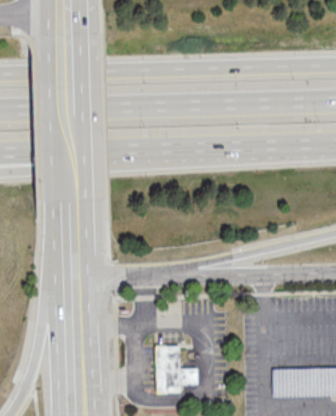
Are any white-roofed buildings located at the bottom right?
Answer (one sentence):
Yes, you'll find a white-roofed building at the bottom right.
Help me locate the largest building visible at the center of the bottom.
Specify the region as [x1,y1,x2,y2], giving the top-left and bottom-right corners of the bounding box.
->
[156,345,199,395]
